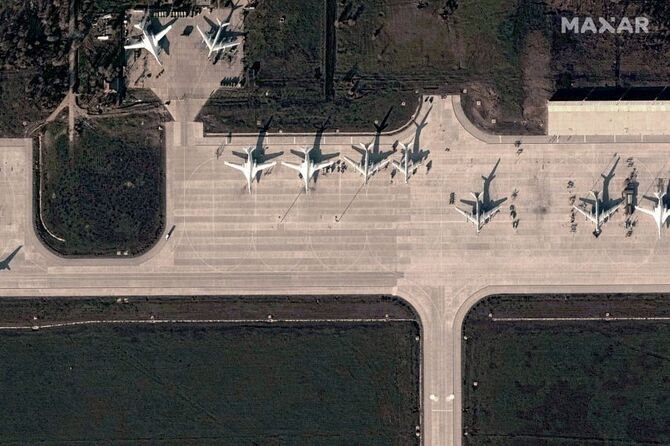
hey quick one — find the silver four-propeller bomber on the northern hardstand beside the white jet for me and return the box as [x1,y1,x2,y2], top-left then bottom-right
[197,17,241,59]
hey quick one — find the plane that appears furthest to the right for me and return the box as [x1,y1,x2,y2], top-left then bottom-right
[634,188,670,237]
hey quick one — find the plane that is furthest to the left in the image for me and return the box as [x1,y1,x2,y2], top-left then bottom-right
[123,20,171,65]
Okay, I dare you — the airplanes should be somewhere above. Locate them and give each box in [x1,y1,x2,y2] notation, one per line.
[281,143,333,192]
[454,189,501,233]
[573,188,620,232]
[197,17,241,59]
[224,144,276,192]
[344,141,391,184]
[392,141,421,184]
[634,188,670,237]
[123,20,171,65]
